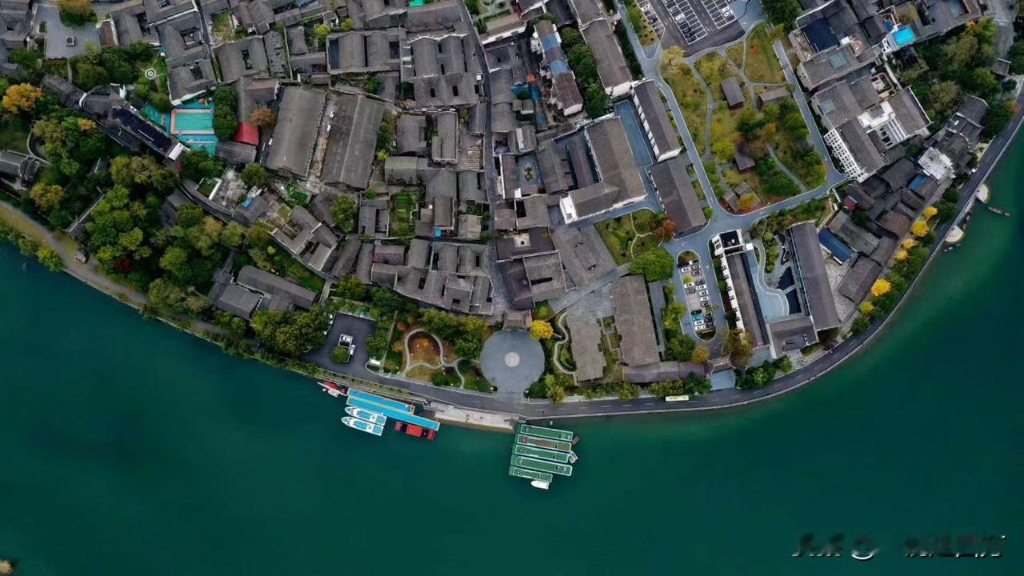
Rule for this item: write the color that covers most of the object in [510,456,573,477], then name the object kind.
green vessel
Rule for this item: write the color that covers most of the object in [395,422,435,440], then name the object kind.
red boat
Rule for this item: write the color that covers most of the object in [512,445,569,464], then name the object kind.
green vessel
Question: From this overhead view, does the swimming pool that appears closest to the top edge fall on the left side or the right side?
right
